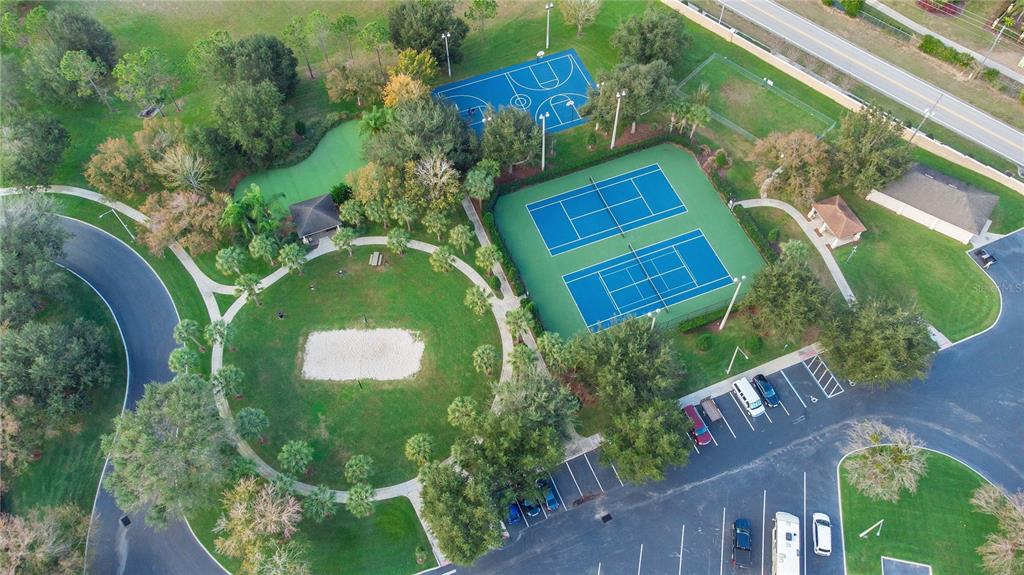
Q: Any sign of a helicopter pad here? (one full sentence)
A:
No, there appears to be no helicopter pad in this shot.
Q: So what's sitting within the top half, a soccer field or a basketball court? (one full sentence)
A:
Visible within the top half is a basketball court.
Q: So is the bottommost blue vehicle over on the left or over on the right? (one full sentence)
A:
The bottommost blue vehicle sits on the right side.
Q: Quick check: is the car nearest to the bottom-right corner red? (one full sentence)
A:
No, the car nearest to the bottom-right corner is white.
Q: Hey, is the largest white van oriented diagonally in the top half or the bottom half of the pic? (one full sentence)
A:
You can find the largest white van oriented diagonally in the bottom half.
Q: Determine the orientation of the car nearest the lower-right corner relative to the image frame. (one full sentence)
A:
I'd say the car nearest the lower-right corner is aligned from top to bottom in the picture.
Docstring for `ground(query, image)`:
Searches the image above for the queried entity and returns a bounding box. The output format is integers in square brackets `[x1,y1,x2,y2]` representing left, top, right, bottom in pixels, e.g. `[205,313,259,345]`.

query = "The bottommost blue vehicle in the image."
[733,518,753,570]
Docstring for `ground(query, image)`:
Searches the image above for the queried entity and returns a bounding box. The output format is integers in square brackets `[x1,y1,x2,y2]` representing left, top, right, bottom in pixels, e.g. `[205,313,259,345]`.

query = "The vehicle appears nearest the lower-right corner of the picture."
[813,514,833,556]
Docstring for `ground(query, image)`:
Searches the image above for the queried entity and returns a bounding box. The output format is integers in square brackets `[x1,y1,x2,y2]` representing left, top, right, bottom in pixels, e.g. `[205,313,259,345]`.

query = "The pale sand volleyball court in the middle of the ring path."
[301,315,424,389]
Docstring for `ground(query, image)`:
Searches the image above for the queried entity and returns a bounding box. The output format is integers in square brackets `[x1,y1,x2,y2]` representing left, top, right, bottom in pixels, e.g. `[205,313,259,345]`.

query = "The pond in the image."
[235,121,370,208]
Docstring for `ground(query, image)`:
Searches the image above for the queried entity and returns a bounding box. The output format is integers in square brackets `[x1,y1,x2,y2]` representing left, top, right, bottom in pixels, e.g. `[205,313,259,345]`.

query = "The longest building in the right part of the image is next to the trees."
[863,160,996,248]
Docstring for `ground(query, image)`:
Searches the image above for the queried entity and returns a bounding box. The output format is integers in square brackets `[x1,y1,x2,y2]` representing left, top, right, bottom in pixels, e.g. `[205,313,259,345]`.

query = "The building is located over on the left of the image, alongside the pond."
[288,192,343,247]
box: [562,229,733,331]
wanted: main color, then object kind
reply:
blue tennis court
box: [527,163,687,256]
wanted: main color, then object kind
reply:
blue tennis court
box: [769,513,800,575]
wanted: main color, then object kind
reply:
white camper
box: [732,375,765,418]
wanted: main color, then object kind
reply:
white van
